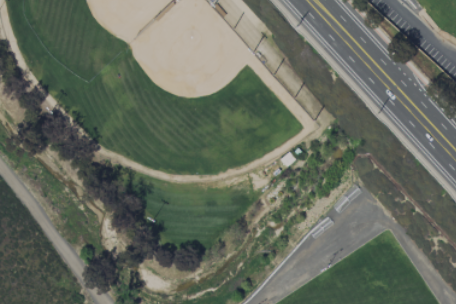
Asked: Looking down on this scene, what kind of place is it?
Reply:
sports ground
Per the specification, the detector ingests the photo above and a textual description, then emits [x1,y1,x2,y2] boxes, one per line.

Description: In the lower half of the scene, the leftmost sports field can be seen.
[142,176,255,254]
